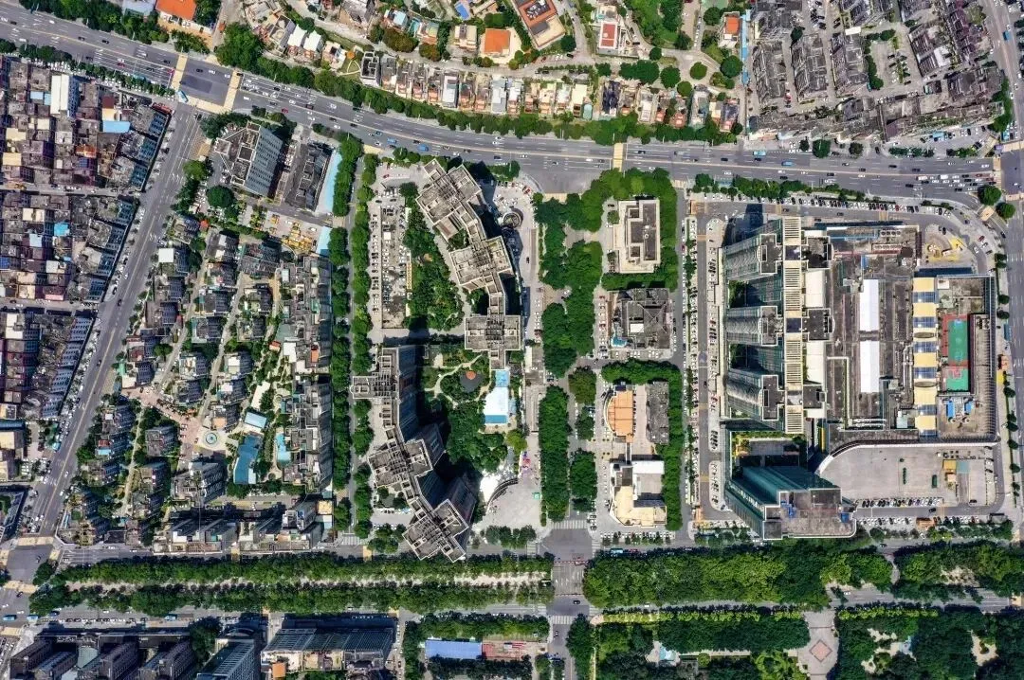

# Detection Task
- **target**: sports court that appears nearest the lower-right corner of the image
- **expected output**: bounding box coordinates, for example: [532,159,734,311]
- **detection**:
[941,367,964,390]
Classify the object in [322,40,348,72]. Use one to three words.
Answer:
house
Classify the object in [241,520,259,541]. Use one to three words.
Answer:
building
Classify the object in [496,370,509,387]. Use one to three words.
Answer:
swimming pool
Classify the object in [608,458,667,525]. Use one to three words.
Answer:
building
